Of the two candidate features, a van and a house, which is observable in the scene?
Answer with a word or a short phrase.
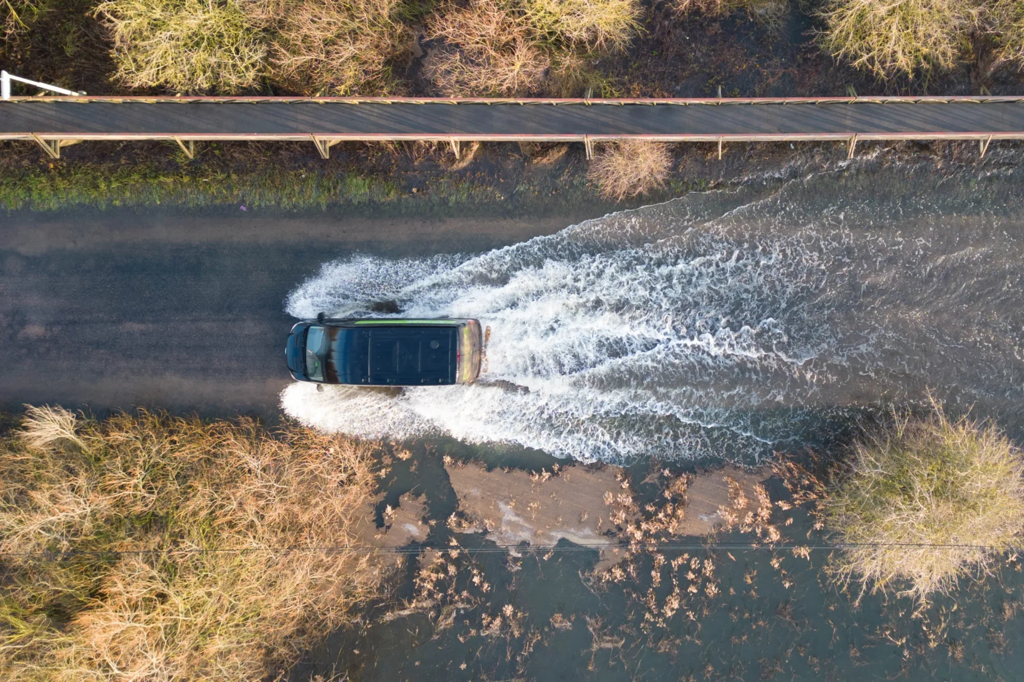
van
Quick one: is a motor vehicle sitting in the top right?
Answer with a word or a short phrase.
No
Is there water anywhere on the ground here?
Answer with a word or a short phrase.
Yes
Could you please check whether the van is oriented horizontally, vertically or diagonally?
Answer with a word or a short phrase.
horizontally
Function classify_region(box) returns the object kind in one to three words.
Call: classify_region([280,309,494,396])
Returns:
van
